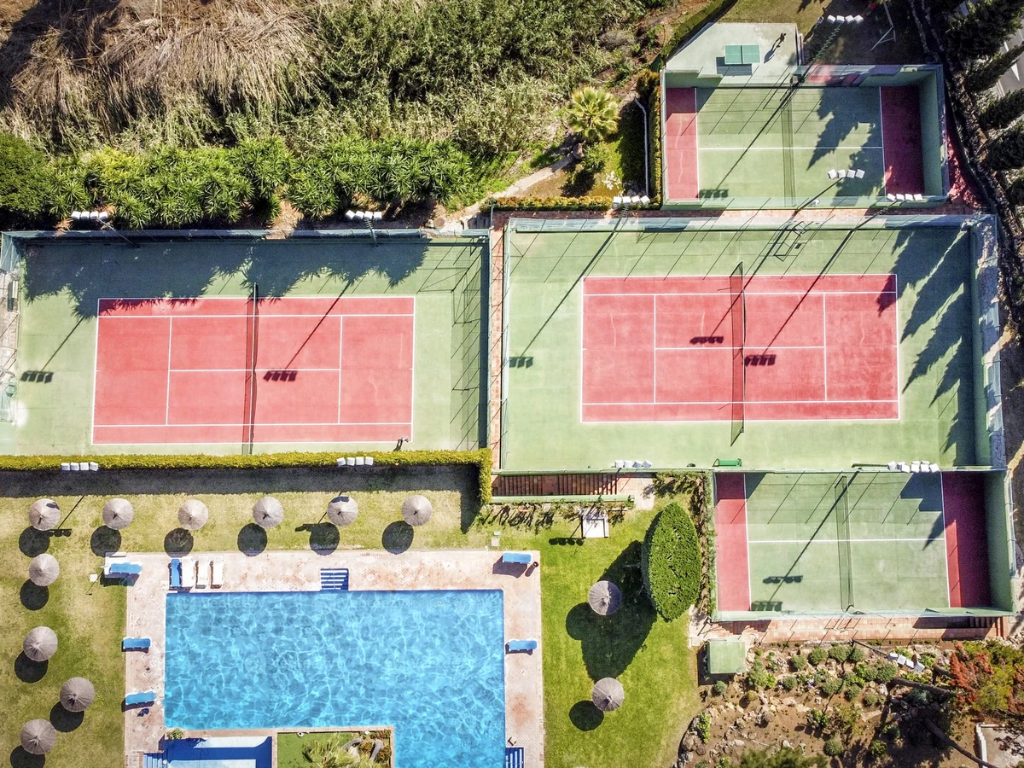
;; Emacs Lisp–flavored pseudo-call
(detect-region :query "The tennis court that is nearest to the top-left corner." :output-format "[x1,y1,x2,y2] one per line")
[0,243,489,456]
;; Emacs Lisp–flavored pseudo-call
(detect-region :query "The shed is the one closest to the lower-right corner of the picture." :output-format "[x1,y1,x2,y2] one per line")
[705,639,746,674]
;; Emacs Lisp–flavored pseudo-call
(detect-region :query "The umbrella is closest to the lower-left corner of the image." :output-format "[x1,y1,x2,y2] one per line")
[20,717,58,755]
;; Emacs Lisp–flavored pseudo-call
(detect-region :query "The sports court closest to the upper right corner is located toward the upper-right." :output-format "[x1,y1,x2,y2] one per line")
[664,81,927,211]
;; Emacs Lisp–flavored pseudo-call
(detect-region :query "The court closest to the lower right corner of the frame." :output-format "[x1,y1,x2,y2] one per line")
[697,469,996,614]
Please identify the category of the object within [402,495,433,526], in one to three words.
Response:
umbrella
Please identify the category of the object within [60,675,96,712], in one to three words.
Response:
umbrella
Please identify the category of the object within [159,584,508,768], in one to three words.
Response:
swimming pool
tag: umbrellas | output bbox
[23,625,60,661]
[29,553,61,585]
[178,498,210,529]
[402,495,433,526]
[103,497,135,529]
[327,495,358,526]
[588,580,621,614]
[60,675,96,712]
[591,677,624,710]
[32,498,63,530]
[253,496,284,527]
[20,717,58,755]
